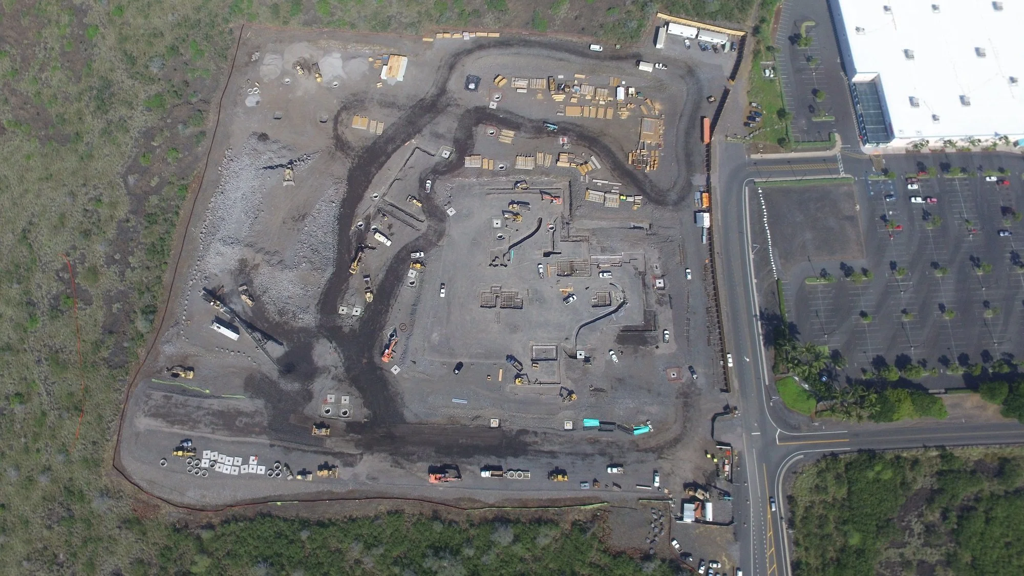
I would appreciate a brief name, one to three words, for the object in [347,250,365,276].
work vehicle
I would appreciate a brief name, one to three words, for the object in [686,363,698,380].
vehicle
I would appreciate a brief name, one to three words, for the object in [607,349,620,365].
vehicle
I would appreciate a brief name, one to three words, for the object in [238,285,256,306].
work vehicle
